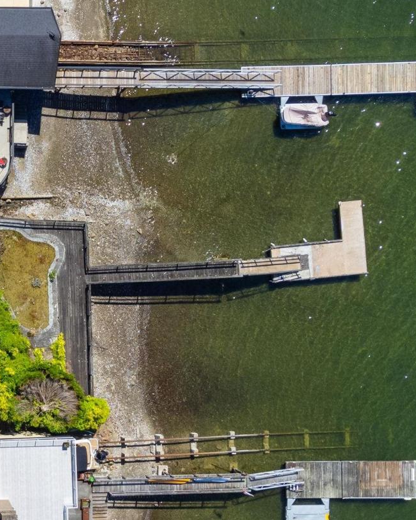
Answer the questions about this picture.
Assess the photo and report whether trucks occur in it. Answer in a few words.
No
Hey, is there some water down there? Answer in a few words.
Yes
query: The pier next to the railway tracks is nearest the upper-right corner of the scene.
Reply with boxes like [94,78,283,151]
[238,61,416,103]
